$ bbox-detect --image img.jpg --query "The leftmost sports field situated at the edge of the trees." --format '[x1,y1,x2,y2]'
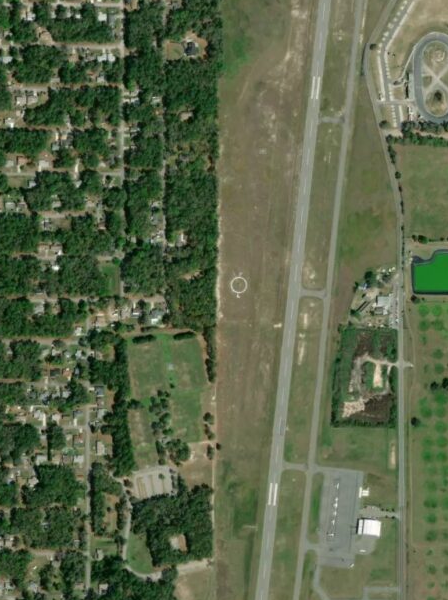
[129,336,165,398]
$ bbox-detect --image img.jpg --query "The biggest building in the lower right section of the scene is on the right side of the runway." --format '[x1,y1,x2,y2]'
[358,520,382,537]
